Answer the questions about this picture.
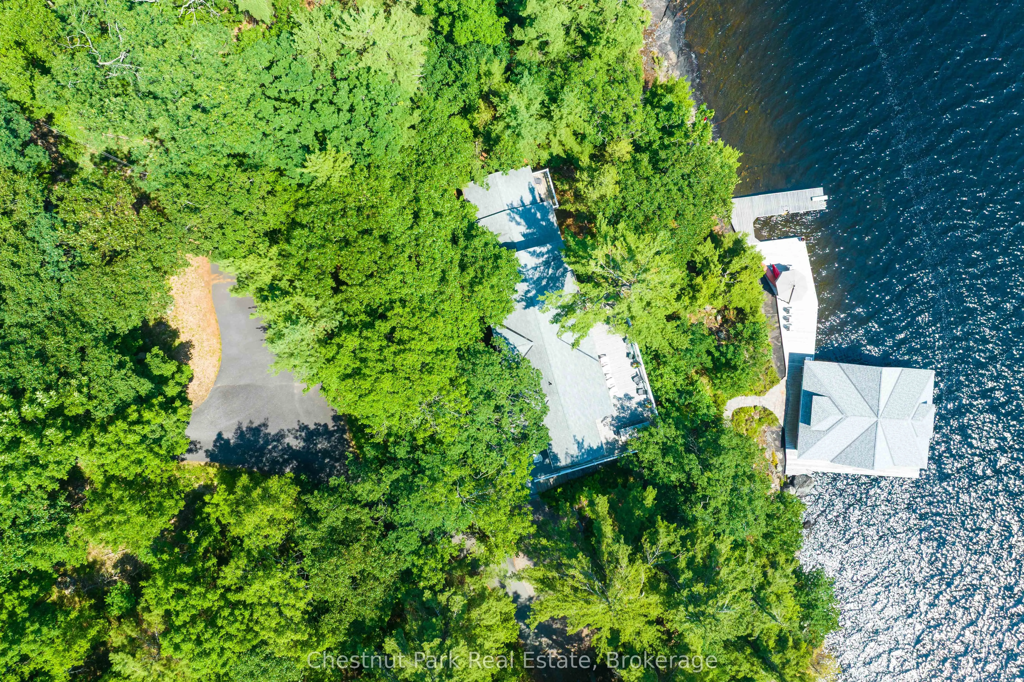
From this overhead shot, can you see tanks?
No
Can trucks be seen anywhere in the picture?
No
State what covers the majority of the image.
trees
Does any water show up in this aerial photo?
Yes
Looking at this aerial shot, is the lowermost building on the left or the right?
right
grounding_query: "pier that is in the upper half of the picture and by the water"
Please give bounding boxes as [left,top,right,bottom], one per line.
[732,187,826,243]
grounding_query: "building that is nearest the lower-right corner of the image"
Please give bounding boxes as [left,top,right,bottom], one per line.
[792,360,936,470]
